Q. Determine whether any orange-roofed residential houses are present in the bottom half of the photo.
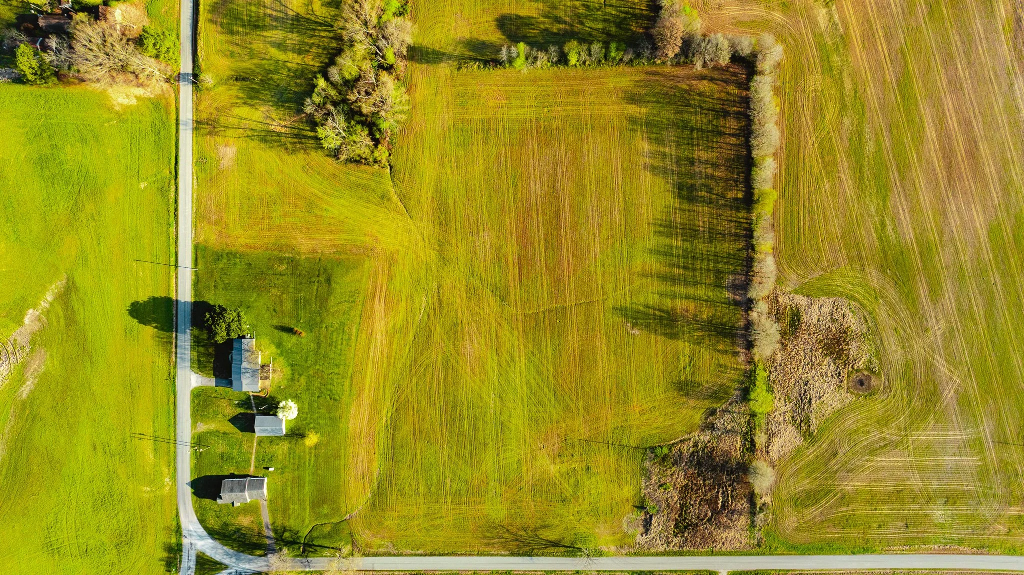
No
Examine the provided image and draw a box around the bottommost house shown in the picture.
[219,476,269,507]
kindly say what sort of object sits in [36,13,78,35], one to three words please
shed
